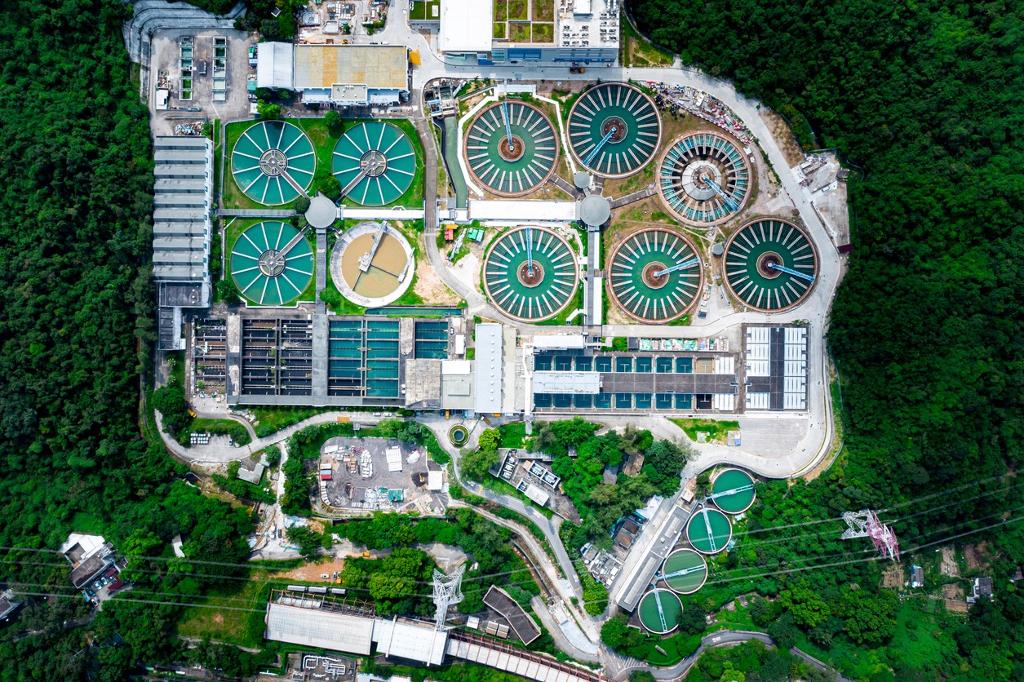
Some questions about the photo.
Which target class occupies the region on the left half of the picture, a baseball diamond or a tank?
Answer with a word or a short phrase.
tank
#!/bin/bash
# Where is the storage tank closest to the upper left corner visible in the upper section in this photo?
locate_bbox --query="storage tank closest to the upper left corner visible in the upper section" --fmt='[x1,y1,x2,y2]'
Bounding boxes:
[232,121,317,206]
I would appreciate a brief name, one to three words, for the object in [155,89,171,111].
shed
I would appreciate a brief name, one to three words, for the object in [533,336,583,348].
building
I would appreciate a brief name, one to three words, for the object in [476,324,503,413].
building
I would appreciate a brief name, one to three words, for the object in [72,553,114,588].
house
